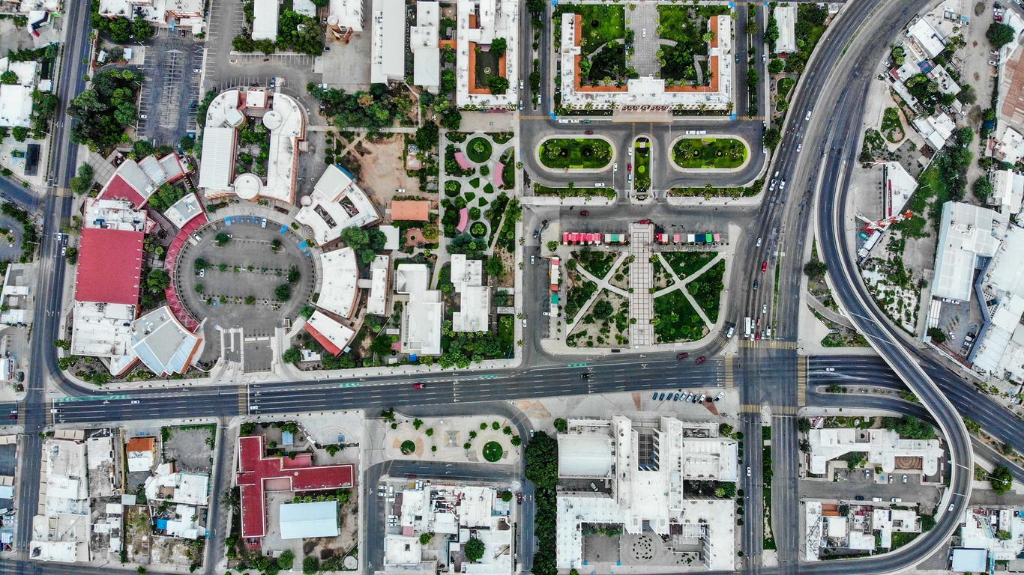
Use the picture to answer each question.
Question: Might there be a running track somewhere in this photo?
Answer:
No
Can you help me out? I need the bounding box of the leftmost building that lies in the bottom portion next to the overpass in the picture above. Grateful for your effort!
[556,415,738,570]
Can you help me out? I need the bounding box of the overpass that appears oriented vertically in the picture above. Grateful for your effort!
[814,153,974,575]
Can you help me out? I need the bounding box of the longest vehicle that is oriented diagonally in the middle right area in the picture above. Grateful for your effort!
[856,230,880,259]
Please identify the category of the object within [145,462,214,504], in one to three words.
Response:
house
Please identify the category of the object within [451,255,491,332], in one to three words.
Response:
building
